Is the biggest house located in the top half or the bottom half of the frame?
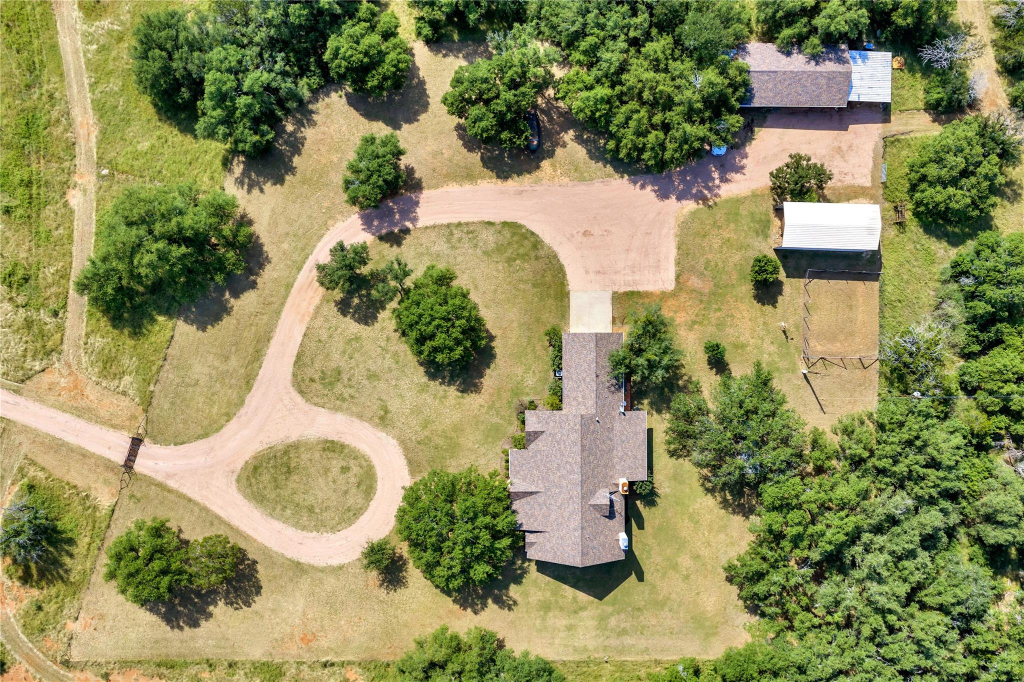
bottom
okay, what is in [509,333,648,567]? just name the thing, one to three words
house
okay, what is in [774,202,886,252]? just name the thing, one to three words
shed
